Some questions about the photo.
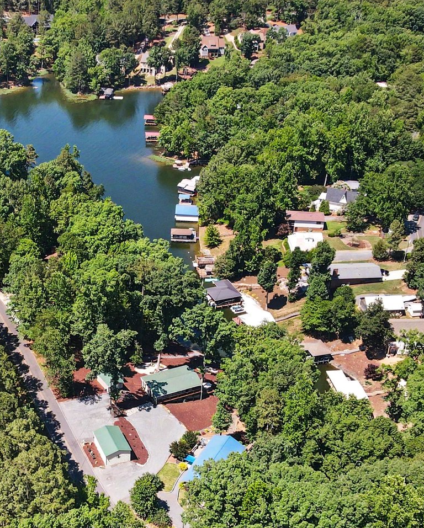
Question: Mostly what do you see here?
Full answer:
For the most part, this view shows trees.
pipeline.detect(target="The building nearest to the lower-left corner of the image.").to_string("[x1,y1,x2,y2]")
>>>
[93,426,131,467]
